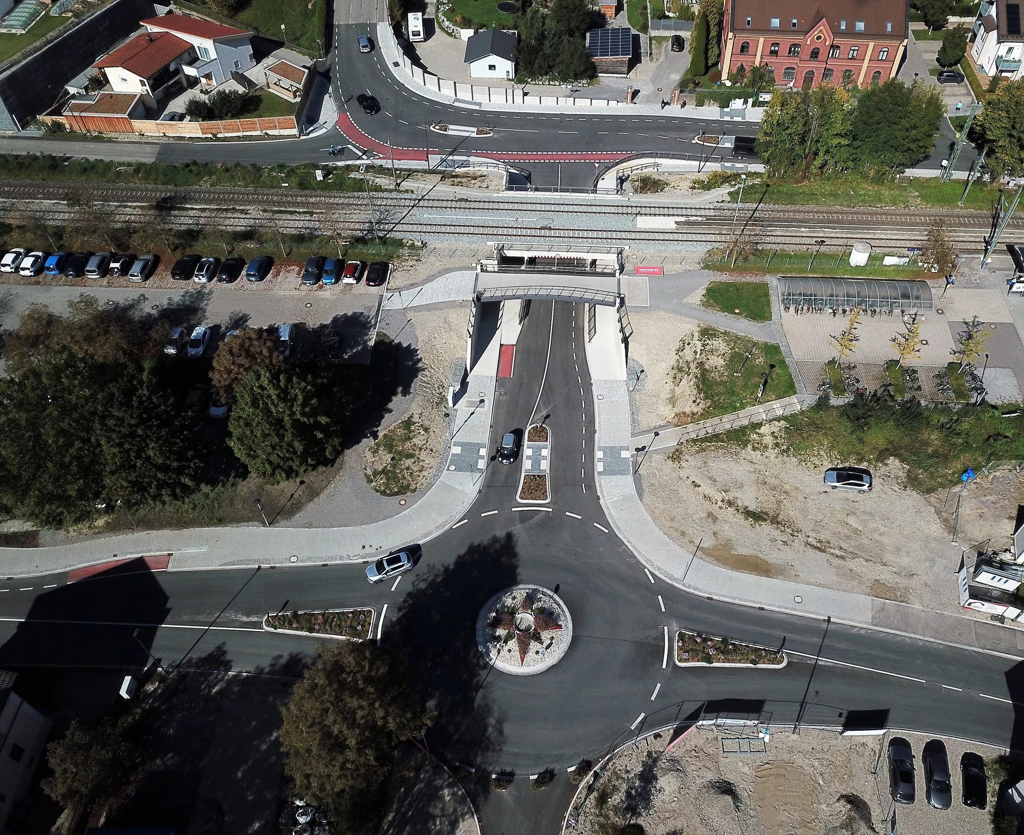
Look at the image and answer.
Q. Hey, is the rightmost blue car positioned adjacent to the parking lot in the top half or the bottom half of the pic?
top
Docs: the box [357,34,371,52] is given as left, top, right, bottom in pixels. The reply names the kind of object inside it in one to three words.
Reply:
car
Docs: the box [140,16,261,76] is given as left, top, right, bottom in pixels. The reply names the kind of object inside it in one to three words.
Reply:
house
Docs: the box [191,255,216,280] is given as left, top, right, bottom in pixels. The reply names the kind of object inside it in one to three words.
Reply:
car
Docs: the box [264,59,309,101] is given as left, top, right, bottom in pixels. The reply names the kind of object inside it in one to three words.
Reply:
building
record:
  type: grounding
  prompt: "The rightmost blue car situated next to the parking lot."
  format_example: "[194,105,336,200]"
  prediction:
[318,255,340,282]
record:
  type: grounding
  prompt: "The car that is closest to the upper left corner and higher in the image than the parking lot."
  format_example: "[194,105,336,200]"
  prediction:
[158,107,192,123]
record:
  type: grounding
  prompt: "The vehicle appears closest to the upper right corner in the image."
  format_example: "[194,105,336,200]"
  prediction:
[937,66,969,83]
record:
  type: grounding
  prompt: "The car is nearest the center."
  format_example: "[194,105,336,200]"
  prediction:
[497,429,519,466]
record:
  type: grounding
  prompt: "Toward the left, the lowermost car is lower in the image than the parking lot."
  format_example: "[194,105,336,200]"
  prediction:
[360,547,416,586]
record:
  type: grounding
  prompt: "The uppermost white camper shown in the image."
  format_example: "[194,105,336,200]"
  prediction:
[408,11,424,45]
